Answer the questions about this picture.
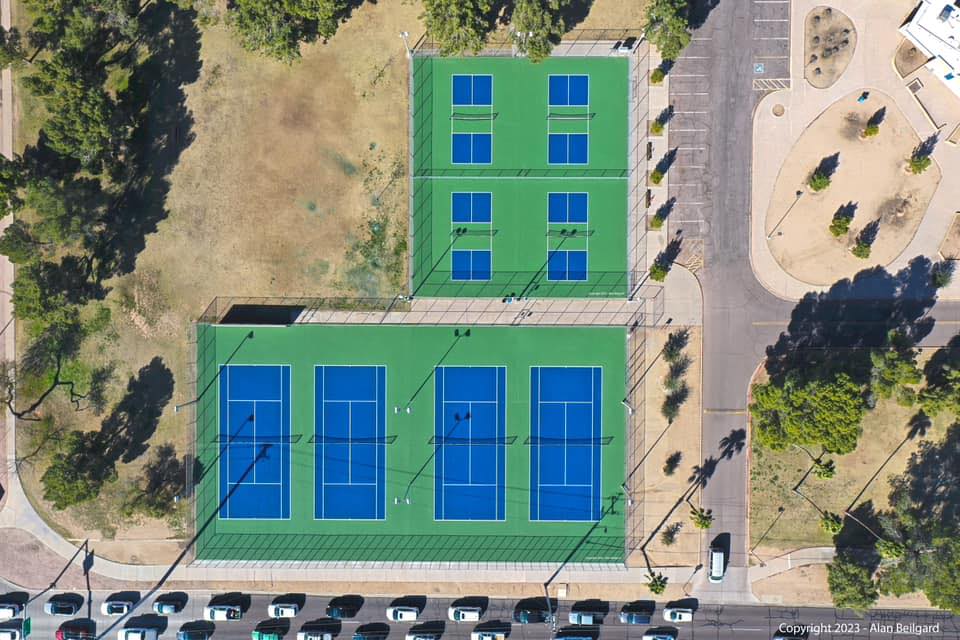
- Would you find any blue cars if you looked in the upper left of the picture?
No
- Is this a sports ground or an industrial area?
sports ground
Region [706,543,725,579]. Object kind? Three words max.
vehicle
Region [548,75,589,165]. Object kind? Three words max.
sports court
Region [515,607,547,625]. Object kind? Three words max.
car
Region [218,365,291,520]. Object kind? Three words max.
tennis court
